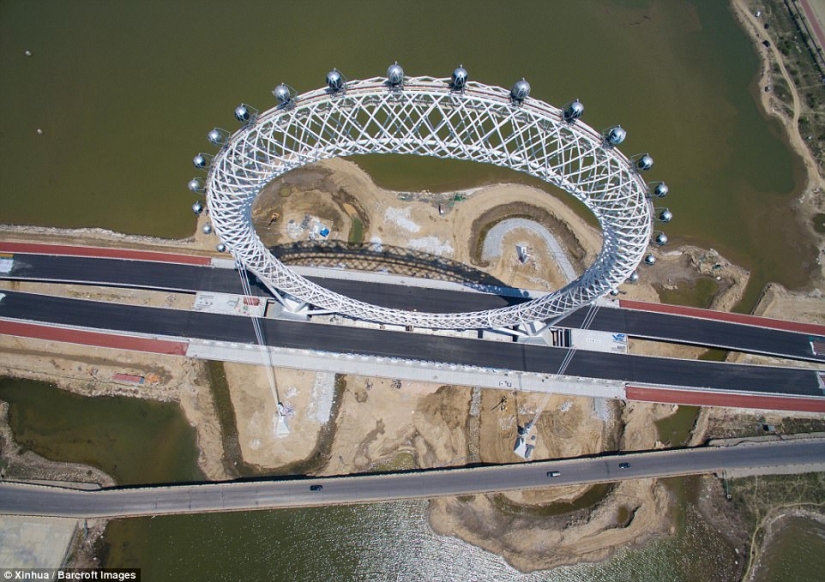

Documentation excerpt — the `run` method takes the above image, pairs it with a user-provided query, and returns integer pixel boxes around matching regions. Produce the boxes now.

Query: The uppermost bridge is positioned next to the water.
[0,242,825,413]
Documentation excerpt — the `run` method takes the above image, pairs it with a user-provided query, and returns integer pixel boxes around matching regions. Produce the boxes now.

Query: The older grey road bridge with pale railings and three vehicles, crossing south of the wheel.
[0,442,825,518]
